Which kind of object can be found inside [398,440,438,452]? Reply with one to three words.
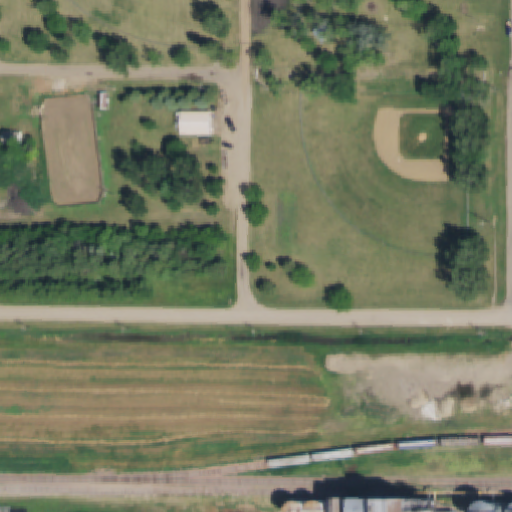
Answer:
rail car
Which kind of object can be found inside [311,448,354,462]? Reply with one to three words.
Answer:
rail car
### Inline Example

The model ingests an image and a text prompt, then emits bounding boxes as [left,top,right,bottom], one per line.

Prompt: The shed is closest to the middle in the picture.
[178,111,213,135]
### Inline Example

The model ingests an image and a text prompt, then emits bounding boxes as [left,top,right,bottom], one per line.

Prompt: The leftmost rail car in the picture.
[267,454,311,469]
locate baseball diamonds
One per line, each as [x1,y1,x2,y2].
[299,84,468,256]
